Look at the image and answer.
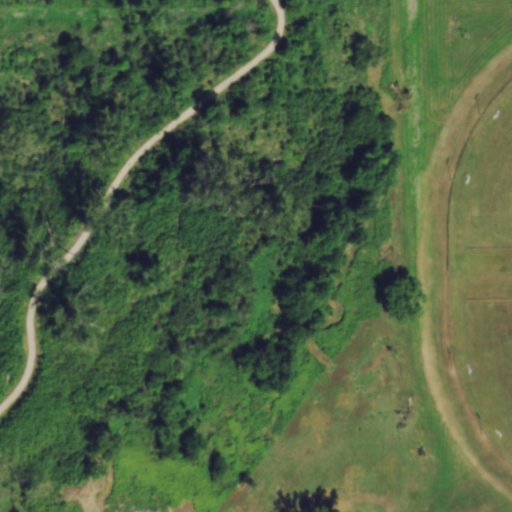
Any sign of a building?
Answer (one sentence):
No, this view has no building in it.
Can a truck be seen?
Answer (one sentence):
No, there's no truck here.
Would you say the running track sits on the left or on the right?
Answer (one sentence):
It is on the right.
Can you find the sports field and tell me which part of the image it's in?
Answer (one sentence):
The sports field sits in the right section of the image.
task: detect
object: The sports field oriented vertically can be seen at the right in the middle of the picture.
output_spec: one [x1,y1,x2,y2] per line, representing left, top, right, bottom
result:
[446,81,512,468]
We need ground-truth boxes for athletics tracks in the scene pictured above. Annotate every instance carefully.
[420,46,512,501]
